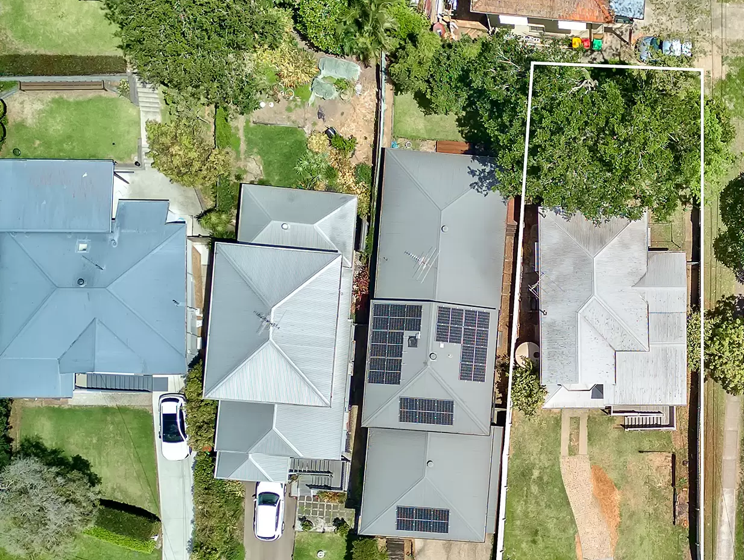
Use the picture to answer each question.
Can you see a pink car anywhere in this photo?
No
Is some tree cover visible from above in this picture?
Yes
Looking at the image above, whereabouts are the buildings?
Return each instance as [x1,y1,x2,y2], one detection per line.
[0,158,200,401]
[469,0,647,39]
[536,205,689,411]
[201,183,361,485]
[356,146,512,543]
